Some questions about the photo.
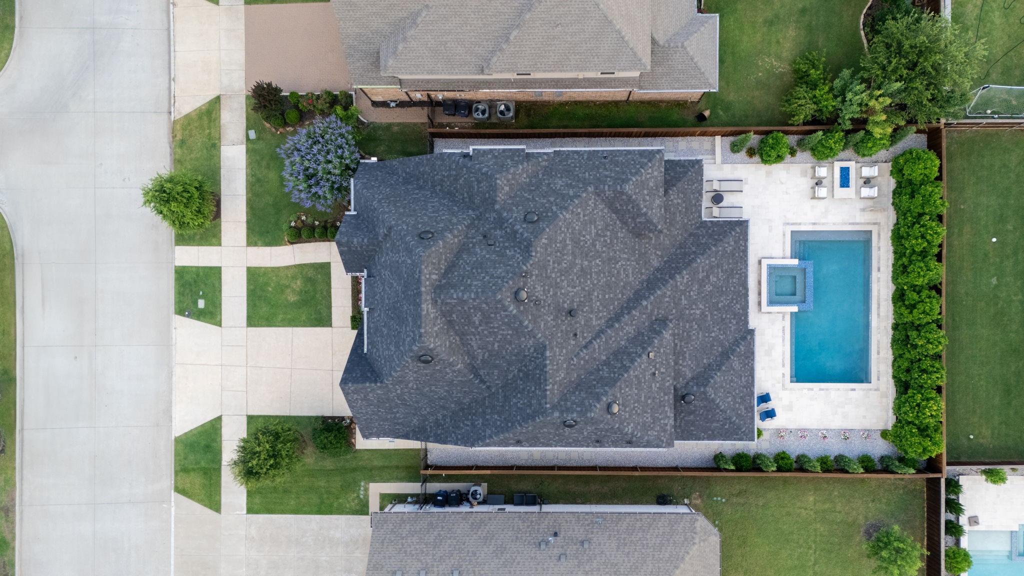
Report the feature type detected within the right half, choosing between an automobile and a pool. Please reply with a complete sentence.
There is a pool within the right half.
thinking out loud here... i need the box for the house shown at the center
[335,146,757,450]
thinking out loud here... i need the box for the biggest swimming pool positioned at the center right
[783,222,880,392]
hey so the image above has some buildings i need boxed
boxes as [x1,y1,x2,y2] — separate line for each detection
[335,146,757,450]
[366,496,723,576]
[332,0,721,105]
